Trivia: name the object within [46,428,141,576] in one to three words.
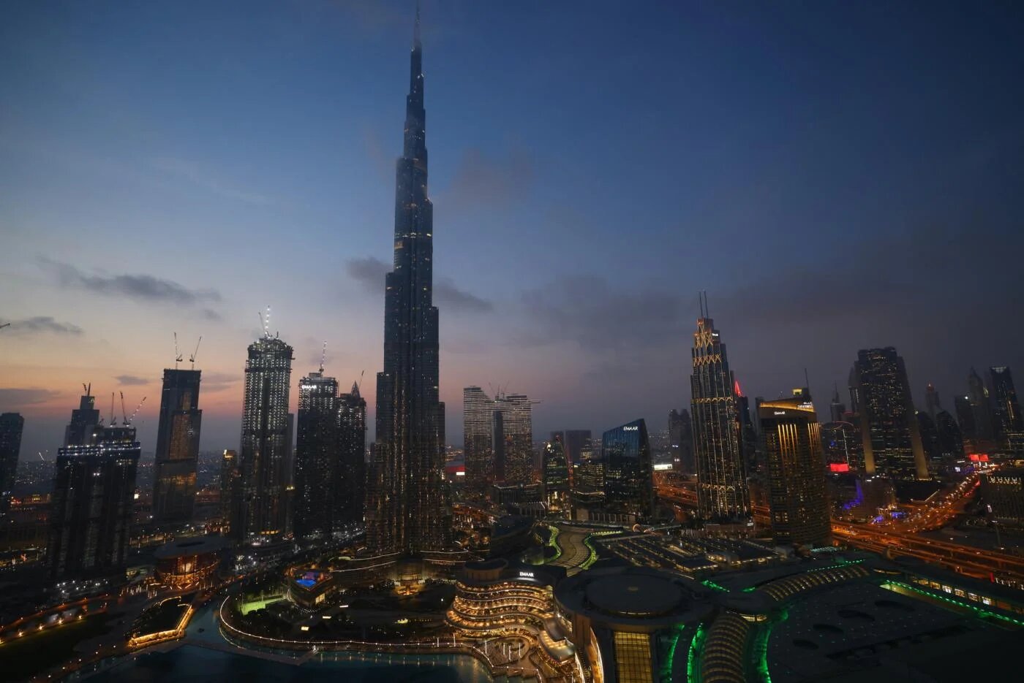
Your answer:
building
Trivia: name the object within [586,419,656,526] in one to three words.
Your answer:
building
